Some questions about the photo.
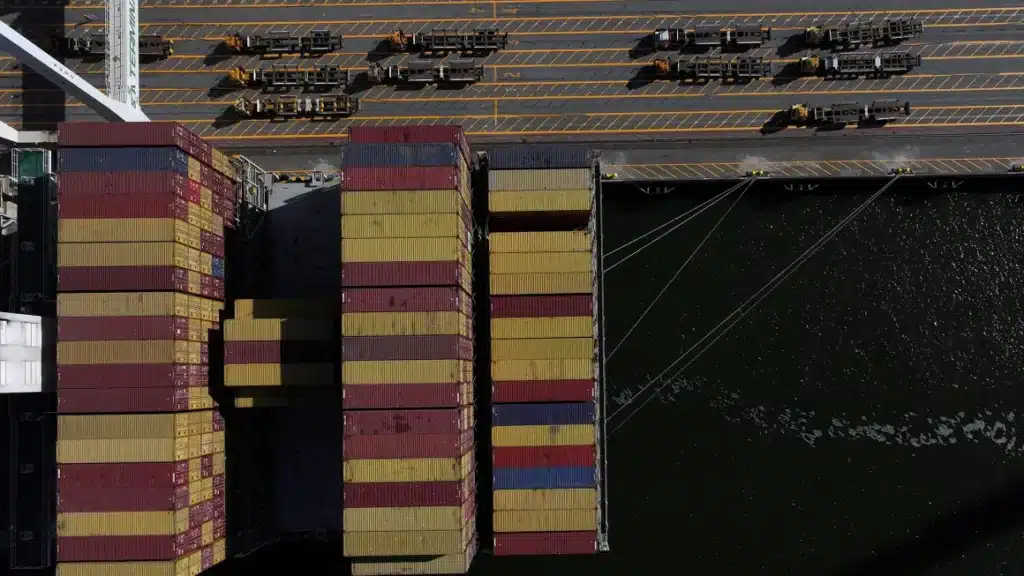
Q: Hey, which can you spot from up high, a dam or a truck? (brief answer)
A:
truck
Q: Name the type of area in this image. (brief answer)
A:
port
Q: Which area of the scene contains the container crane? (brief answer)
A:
top left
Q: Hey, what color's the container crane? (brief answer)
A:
white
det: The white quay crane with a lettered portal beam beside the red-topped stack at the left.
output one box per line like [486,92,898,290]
[0,0,152,148]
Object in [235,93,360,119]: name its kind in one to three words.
truck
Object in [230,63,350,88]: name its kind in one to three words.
truck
